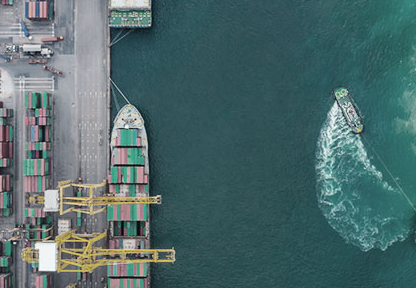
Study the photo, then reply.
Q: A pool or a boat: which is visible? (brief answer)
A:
boat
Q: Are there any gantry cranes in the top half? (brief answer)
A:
No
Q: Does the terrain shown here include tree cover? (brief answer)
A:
No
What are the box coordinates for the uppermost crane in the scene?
[29,177,163,216]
